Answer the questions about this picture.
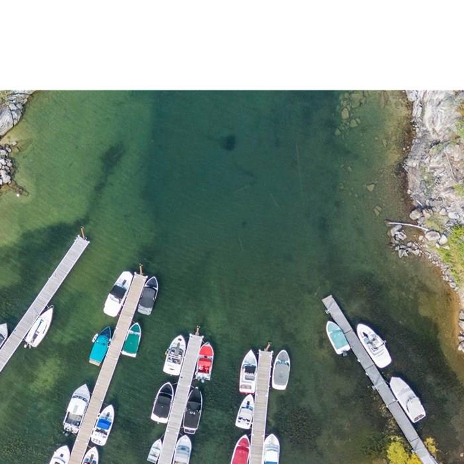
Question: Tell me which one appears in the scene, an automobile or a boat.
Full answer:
It is a boat that can be seen here.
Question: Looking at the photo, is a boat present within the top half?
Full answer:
No, looking within the top half, there is no boat.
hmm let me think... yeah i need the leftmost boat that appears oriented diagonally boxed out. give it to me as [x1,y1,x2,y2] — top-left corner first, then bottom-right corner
[25,306,54,350]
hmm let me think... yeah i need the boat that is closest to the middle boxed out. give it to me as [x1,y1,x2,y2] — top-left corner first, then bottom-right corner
[136,276,158,317]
